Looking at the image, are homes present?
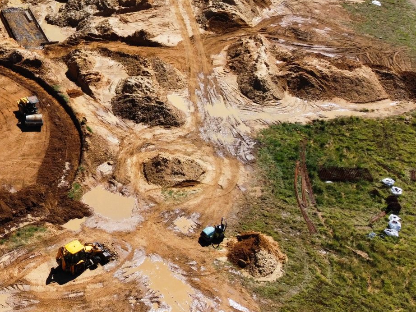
No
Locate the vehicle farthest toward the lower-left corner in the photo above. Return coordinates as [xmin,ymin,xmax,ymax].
[55,235,129,280]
